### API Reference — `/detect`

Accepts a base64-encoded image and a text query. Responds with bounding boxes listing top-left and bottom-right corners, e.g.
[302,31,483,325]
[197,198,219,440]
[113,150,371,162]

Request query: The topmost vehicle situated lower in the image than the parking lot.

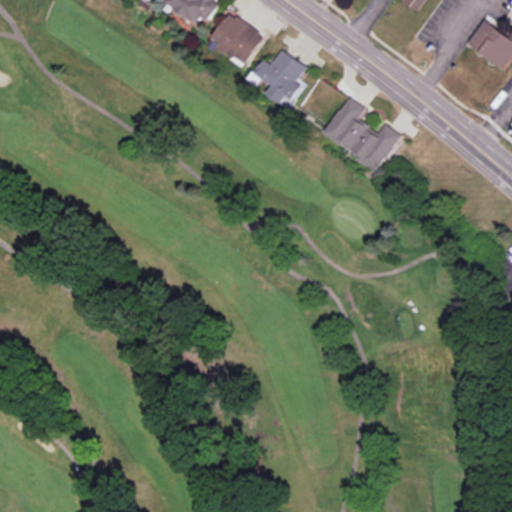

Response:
[491,89,509,110]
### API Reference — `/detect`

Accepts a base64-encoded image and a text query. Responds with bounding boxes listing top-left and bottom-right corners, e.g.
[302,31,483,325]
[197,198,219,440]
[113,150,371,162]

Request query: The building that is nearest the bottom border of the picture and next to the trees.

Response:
[324,97,401,170]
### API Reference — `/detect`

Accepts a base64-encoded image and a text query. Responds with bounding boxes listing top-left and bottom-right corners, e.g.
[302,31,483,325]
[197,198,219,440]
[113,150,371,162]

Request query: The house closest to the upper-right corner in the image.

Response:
[468,17,512,73]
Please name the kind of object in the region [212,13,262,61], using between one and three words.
house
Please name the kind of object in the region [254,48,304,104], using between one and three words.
house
